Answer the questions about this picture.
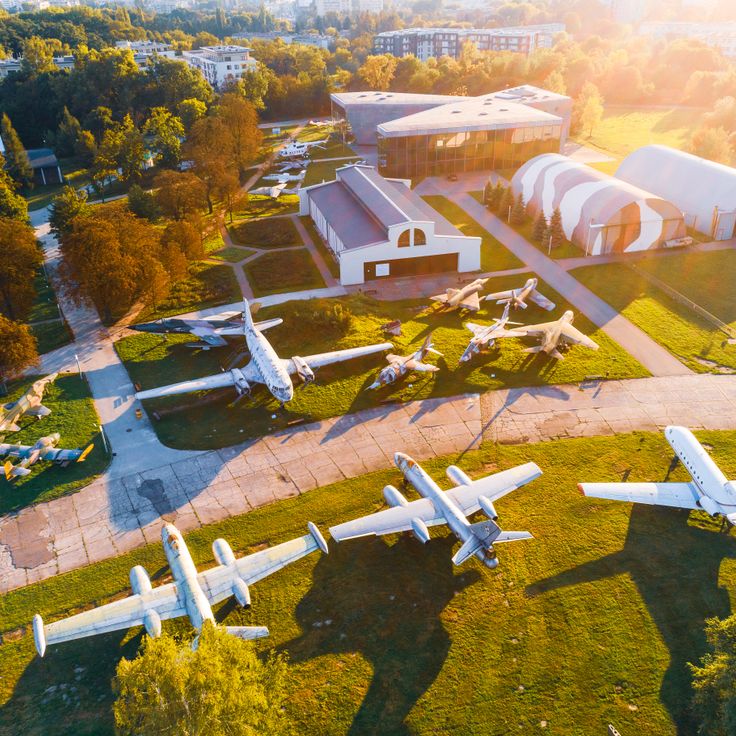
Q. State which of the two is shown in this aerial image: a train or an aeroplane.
aeroplane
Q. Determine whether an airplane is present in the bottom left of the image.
Yes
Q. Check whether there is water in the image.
No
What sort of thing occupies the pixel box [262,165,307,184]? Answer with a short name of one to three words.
airplane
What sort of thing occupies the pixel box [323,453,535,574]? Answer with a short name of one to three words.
airplane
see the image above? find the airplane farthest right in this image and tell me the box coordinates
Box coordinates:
[579,430,736,533]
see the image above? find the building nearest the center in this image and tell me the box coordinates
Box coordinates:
[300,160,484,285]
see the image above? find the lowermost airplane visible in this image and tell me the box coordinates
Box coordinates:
[36,522,326,667]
